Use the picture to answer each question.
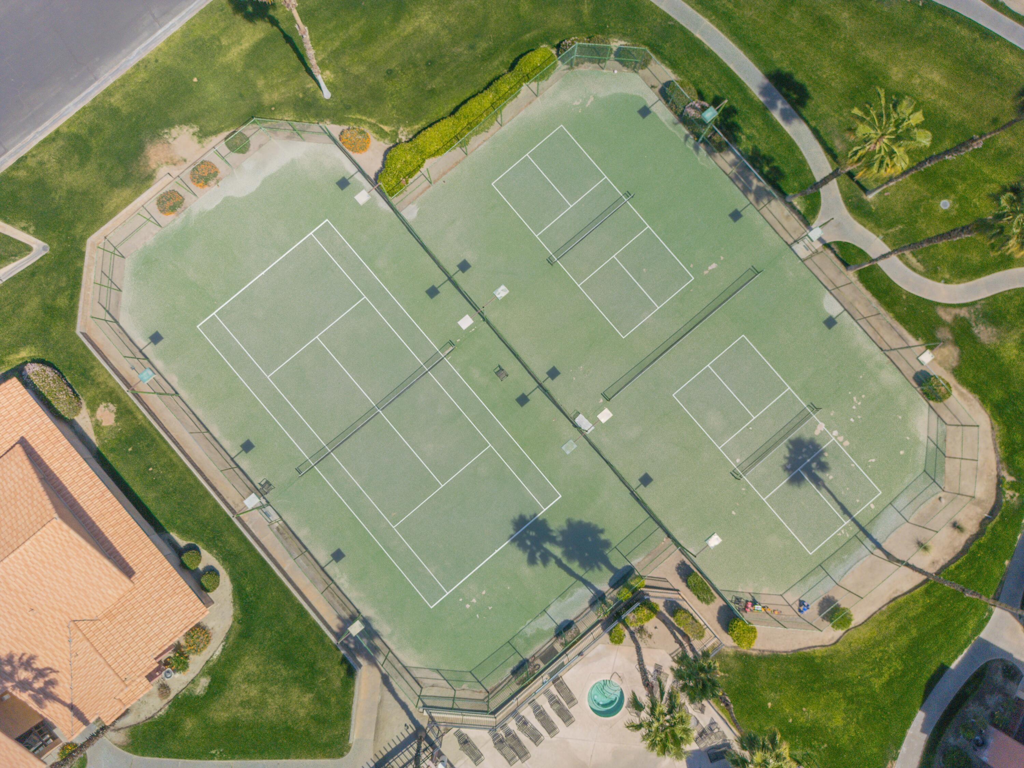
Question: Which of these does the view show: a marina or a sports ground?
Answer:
sports ground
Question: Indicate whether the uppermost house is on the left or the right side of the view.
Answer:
left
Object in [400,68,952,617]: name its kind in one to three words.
sports court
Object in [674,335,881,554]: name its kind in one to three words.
sports court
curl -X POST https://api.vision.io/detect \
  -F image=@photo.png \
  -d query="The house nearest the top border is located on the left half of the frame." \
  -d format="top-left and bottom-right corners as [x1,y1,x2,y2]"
[0,377,215,742]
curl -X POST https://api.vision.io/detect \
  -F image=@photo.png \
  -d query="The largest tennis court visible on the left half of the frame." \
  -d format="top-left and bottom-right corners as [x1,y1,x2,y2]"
[118,140,668,692]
